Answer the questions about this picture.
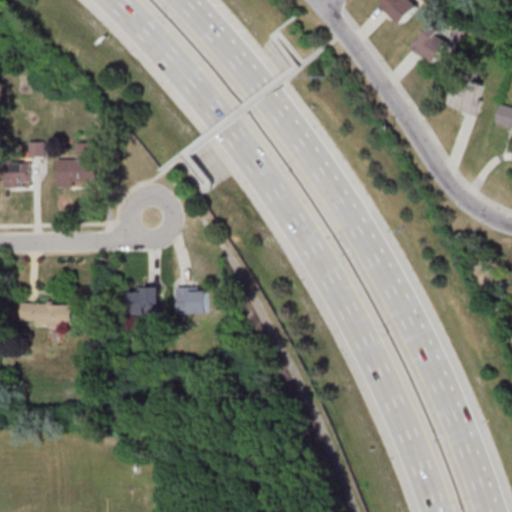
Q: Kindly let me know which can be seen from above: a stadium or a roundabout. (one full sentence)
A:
Looking from above, you can make out a roundabout.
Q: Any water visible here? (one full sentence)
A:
No, no water is visible.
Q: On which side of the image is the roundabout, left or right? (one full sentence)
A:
The roundabout sits on the left side.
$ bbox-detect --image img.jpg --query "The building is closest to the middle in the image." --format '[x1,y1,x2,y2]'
[174,286,212,314]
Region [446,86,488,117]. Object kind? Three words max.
house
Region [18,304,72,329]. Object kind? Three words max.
house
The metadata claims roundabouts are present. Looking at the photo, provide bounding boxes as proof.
[120,185,184,248]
